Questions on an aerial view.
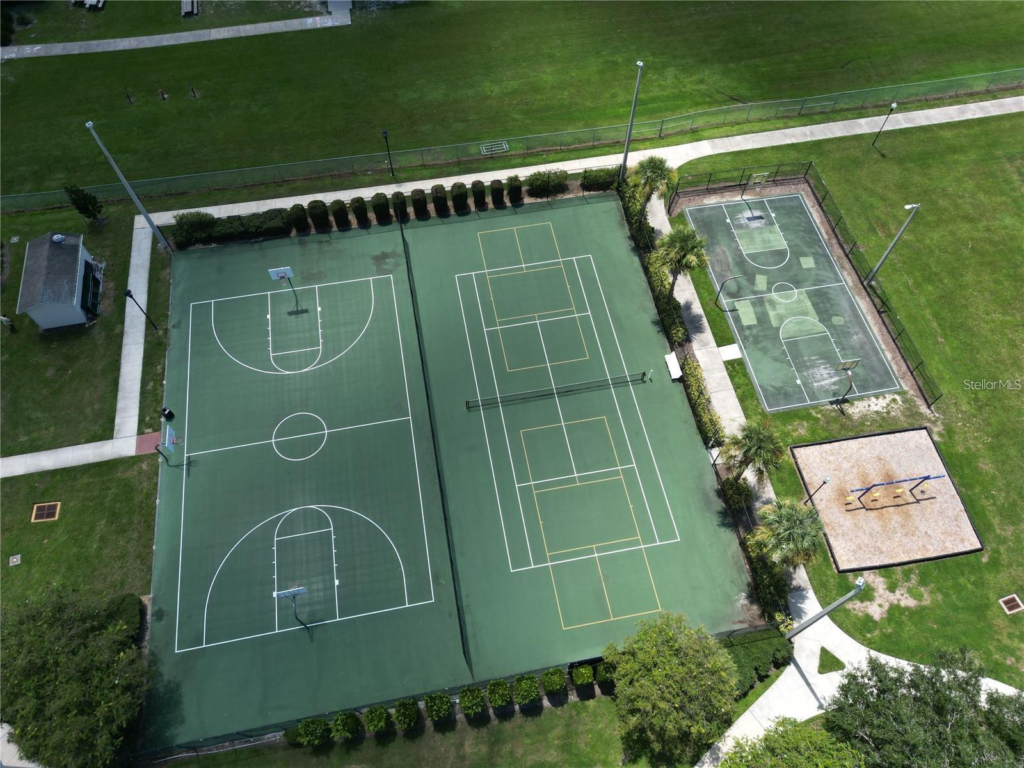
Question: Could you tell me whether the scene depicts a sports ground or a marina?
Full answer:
The picture captures a sports ground.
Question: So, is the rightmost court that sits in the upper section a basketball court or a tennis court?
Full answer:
From above, the rightmost court that sits in the upper section can be identified as a basketball court.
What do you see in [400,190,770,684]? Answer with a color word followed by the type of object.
green tennis court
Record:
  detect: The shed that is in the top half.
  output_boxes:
[17,231,107,328]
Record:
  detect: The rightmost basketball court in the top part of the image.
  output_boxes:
[683,191,905,413]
